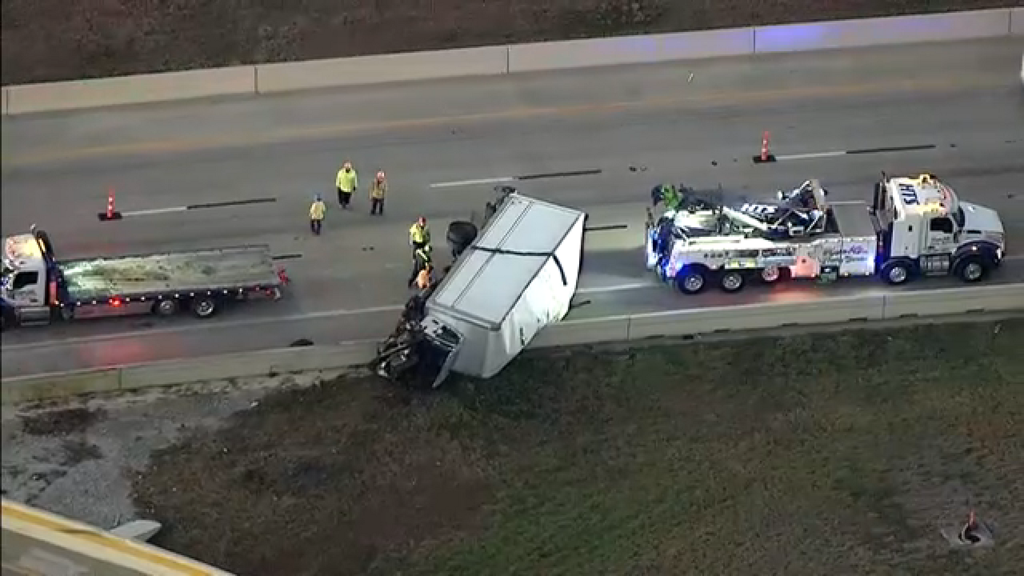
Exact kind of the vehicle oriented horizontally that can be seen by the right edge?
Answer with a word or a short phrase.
truck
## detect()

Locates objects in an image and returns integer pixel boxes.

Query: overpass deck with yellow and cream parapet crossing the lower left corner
[0,498,233,576]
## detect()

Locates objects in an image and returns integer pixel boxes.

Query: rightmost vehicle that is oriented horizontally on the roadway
[642,168,1006,292]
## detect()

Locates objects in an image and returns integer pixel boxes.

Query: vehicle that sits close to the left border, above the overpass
[0,221,288,333]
